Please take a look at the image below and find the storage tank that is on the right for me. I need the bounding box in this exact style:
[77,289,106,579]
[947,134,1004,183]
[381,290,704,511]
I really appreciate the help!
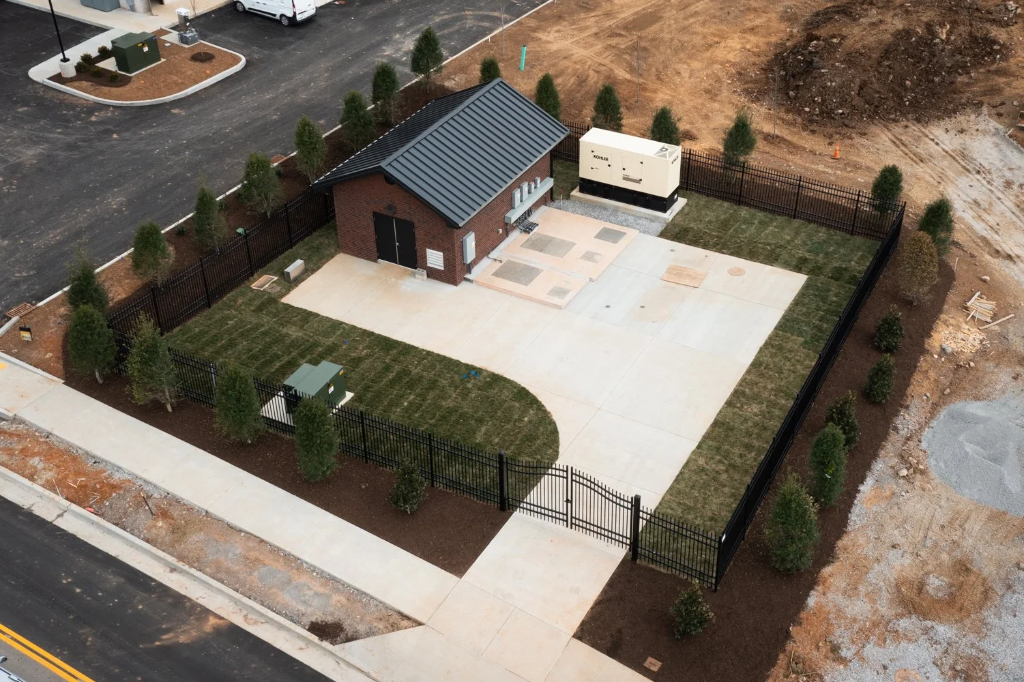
[579,178,681,212]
